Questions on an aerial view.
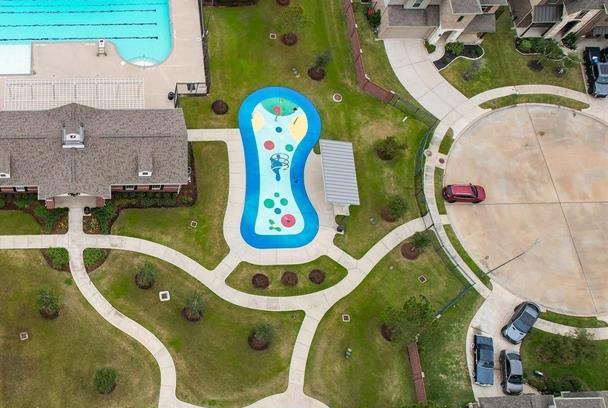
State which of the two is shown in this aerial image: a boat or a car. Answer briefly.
car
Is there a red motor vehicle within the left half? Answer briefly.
No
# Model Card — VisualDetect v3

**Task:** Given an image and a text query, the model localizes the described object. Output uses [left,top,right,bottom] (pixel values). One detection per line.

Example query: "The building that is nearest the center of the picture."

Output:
[314,140,360,211]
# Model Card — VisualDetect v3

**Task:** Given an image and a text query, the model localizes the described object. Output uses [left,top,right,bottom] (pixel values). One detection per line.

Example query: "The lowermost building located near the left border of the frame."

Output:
[0,99,187,212]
